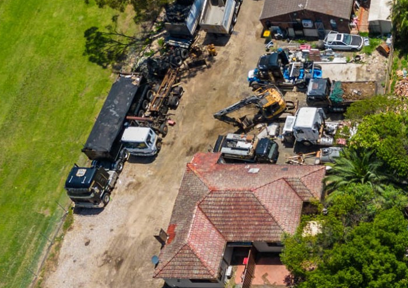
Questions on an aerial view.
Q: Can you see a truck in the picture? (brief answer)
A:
Yes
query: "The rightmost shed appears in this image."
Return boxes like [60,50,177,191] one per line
[363,0,394,38]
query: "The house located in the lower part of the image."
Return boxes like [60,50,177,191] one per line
[153,152,327,285]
